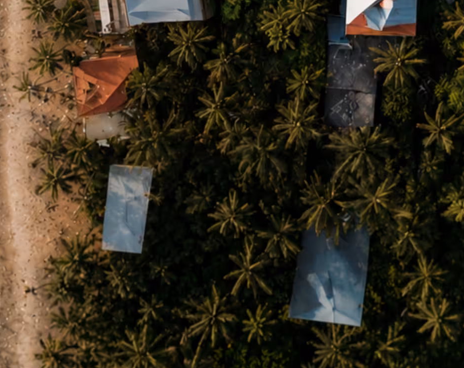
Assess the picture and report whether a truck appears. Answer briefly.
No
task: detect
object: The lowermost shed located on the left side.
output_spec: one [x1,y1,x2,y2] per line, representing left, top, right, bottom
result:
[103,161,154,253]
